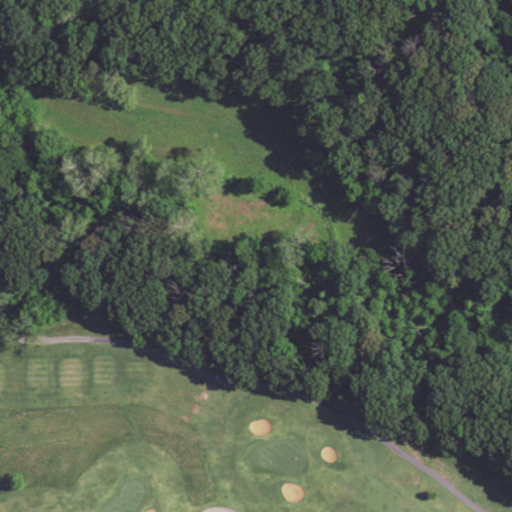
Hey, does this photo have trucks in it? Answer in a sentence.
No, I can see no truck in this picture.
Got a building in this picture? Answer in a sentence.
No, I find no building anywhere in the image.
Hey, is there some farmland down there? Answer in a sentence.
No, the picture contains no farmland.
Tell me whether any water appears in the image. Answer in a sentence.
No, water can't be seen anywhere here.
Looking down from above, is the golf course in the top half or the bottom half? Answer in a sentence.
It is in the bottom half that the golf course appears.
